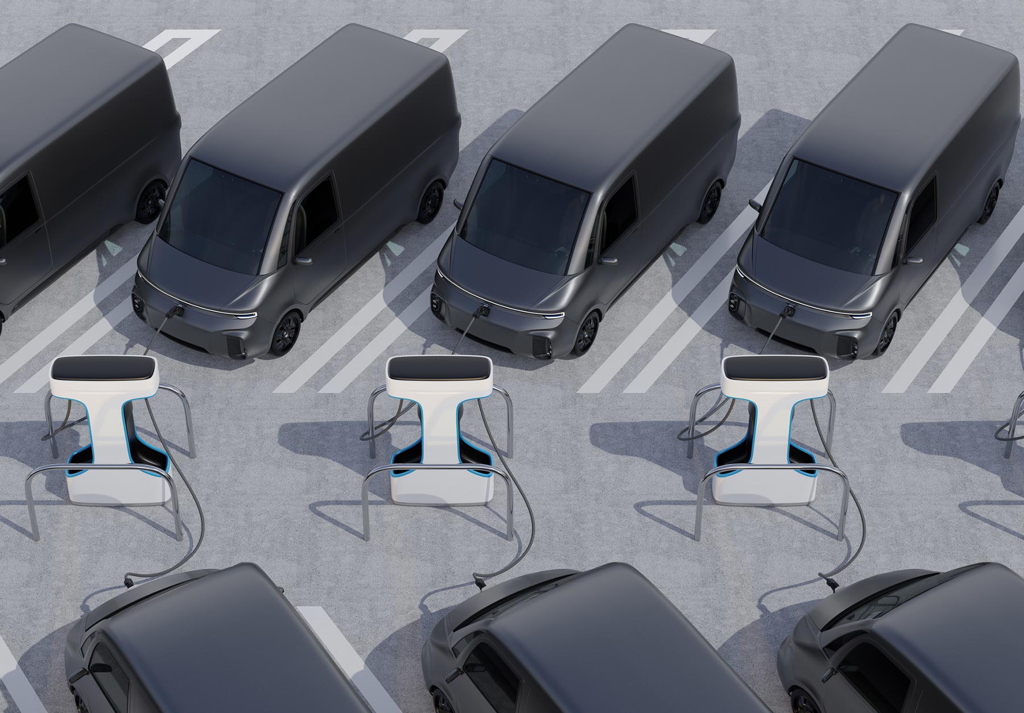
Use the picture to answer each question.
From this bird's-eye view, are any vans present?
Yes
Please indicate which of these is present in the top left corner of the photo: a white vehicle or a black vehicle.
black vehicle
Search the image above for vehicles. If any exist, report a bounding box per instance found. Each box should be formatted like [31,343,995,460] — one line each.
[60,565,370,713]
[127,25,460,364]
[772,565,1024,713]
[416,565,770,713]
[426,25,740,364]
[0,25,180,323]
[725,25,1020,364]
